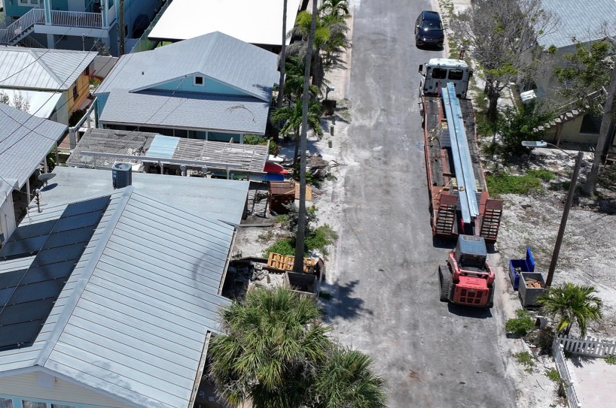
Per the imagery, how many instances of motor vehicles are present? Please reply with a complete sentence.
My tally gives 3 motor vehicles in this view.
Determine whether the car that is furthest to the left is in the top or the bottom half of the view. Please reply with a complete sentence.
Seen from above, the car that is furthest to the left lies in the top half of the view.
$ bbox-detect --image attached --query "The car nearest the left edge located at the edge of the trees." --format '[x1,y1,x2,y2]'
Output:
[411,4,449,40]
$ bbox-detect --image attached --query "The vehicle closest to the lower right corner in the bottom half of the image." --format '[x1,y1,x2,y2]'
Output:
[436,228,494,303]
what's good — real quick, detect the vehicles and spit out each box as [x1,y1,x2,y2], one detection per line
[436,228,494,303]
[411,4,449,40]
[421,58,504,249]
